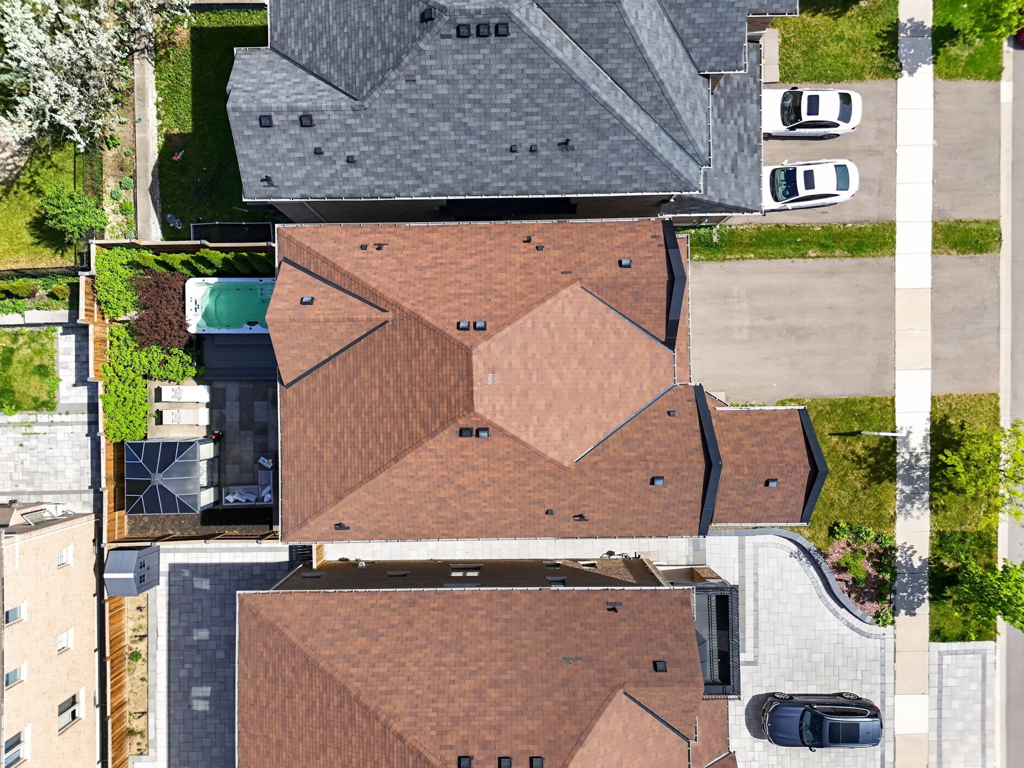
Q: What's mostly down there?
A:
buildings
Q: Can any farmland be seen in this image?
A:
No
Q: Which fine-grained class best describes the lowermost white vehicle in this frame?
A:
automobile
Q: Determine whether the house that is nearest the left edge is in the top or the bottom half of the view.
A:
bottom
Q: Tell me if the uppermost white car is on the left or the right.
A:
right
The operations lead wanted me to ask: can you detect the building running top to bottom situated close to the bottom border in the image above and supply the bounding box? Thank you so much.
[0,504,107,768]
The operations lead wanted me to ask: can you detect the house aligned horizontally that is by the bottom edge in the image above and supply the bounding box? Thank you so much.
[235,553,740,768]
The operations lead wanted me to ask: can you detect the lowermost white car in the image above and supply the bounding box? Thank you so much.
[766,157,860,213]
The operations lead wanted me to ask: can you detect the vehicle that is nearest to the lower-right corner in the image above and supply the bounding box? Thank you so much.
[761,692,884,758]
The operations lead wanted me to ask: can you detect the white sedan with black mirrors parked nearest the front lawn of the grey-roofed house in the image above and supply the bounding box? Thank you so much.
[765,83,862,141]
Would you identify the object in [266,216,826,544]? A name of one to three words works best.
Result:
house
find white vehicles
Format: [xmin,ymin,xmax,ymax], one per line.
[765,83,862,141]
[766,157,860,213]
